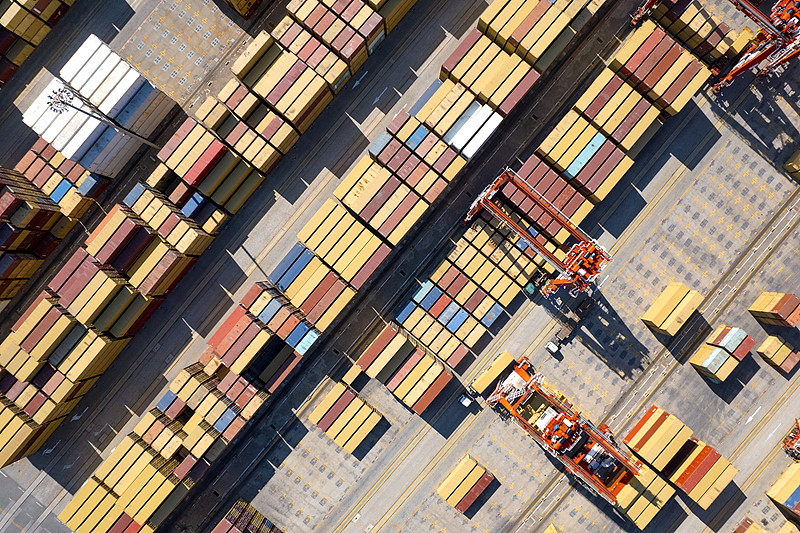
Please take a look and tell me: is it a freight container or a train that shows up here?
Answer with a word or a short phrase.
freight container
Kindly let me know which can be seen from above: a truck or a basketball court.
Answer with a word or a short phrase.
truck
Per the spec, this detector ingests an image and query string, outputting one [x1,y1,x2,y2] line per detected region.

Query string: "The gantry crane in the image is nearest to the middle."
[458,159,617,297]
